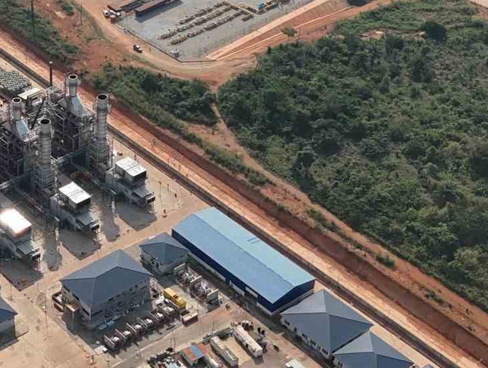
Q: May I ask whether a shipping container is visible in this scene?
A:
Yes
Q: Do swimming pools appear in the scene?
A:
No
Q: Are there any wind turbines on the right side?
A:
No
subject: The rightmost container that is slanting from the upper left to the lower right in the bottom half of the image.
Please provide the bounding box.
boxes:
[160,284,190,313]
